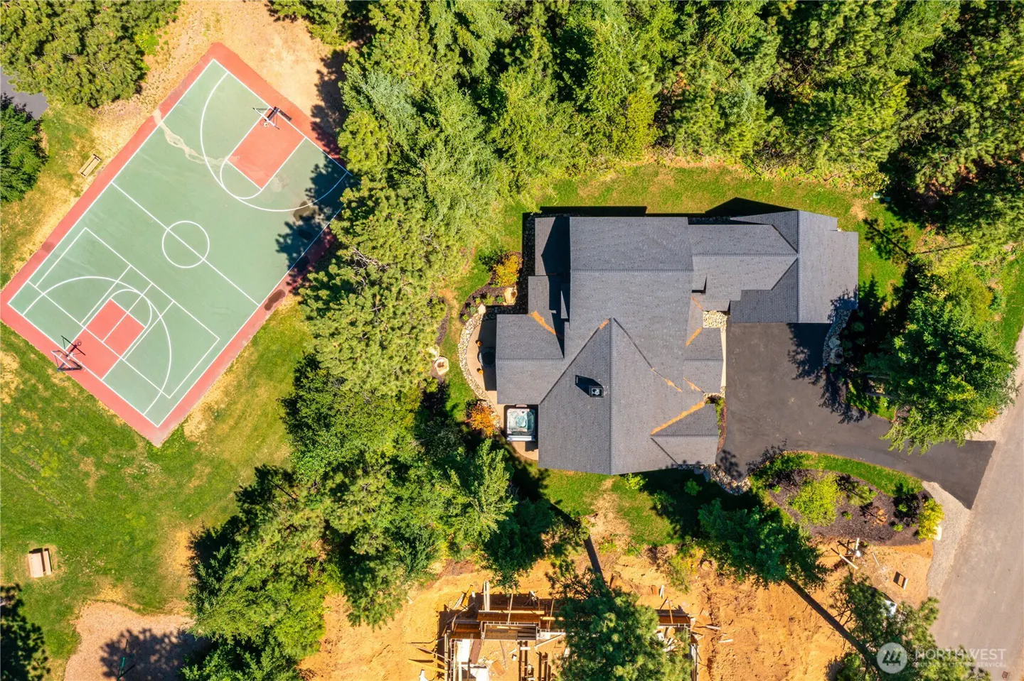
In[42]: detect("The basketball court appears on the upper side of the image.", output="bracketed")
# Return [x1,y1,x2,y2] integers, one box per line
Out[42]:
[0,42,383,452]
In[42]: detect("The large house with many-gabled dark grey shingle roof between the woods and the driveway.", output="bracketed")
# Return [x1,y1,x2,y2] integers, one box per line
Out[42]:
[496,210,858,475]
